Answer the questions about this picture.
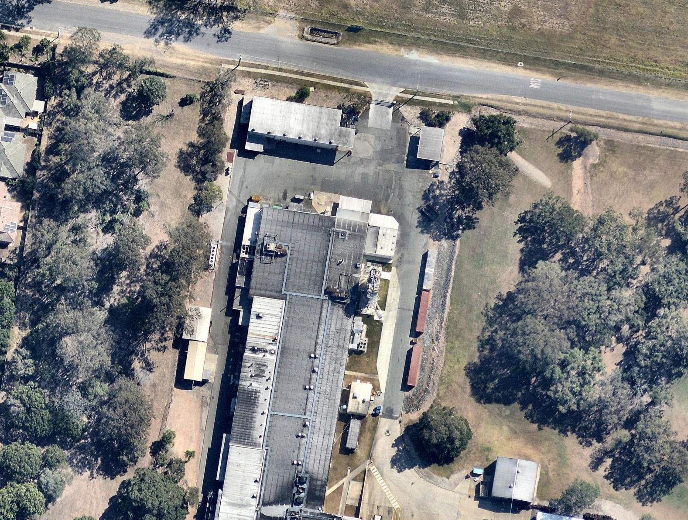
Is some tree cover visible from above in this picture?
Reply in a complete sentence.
Yes, there is tree cover in the image.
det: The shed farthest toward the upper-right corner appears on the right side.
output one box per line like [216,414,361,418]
[418,126,444,163]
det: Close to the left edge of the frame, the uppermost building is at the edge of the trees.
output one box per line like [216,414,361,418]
[0,70,45,127]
